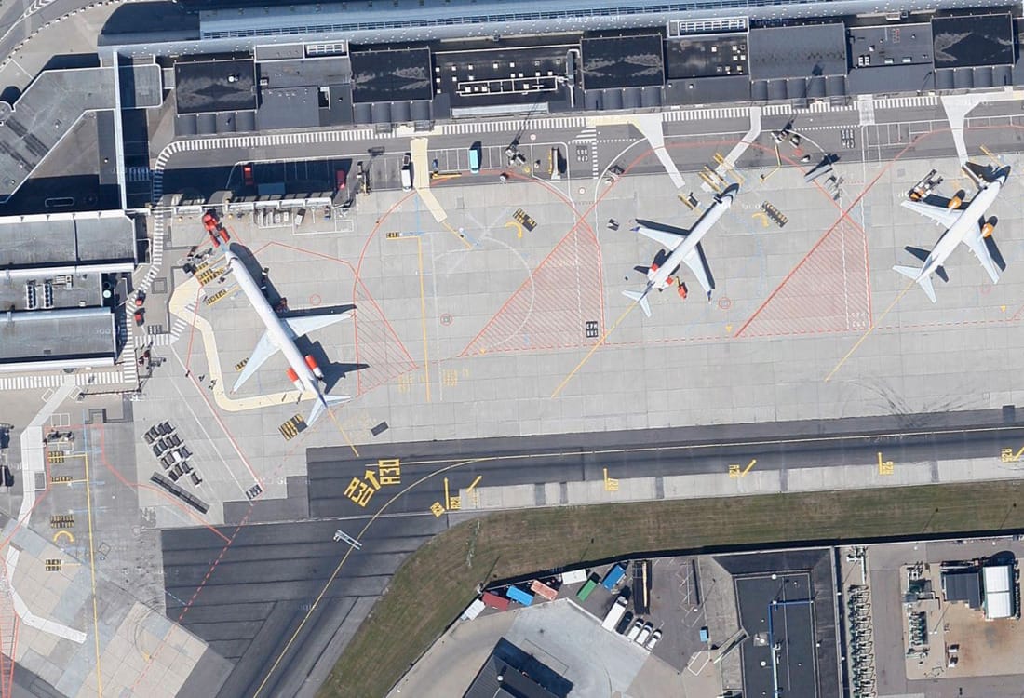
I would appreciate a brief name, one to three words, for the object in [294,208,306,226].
vehicle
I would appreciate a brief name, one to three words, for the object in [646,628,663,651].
car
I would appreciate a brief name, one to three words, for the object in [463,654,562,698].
shed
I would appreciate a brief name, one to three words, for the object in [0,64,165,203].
building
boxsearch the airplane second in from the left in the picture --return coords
[623,185,739,316]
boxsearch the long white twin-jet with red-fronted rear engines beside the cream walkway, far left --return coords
[226,253,353,424]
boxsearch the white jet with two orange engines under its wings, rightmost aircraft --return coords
[894,166,1010,302]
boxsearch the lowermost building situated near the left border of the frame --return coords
[0,307,117,372]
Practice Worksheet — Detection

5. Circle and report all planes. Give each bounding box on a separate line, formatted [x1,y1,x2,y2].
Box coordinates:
[623,185,739,316]
[894,166,1010,302]
[226,253,353,424]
